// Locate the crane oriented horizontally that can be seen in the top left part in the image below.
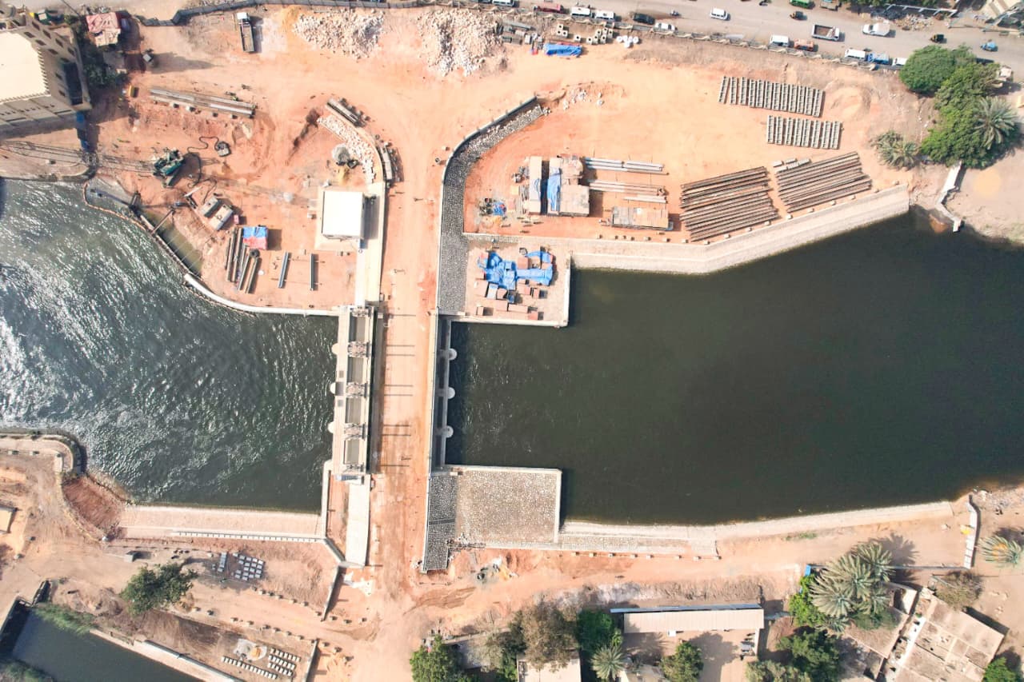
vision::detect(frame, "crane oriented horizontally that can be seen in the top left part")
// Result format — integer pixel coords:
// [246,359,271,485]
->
[0,137,187,181]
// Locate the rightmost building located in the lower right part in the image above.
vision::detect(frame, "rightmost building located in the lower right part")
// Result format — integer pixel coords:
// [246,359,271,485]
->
[875,592,1006,682]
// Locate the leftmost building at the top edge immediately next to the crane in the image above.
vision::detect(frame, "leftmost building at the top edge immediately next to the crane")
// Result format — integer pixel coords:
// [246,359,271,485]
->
[0,4,91,128]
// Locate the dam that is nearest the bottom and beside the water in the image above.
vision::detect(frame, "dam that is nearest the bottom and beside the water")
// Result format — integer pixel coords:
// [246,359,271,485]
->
[327,306,458,483]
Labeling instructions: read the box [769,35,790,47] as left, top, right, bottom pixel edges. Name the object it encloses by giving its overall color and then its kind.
white vehicle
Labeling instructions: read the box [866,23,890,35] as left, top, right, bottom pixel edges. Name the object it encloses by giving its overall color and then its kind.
white vehicle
